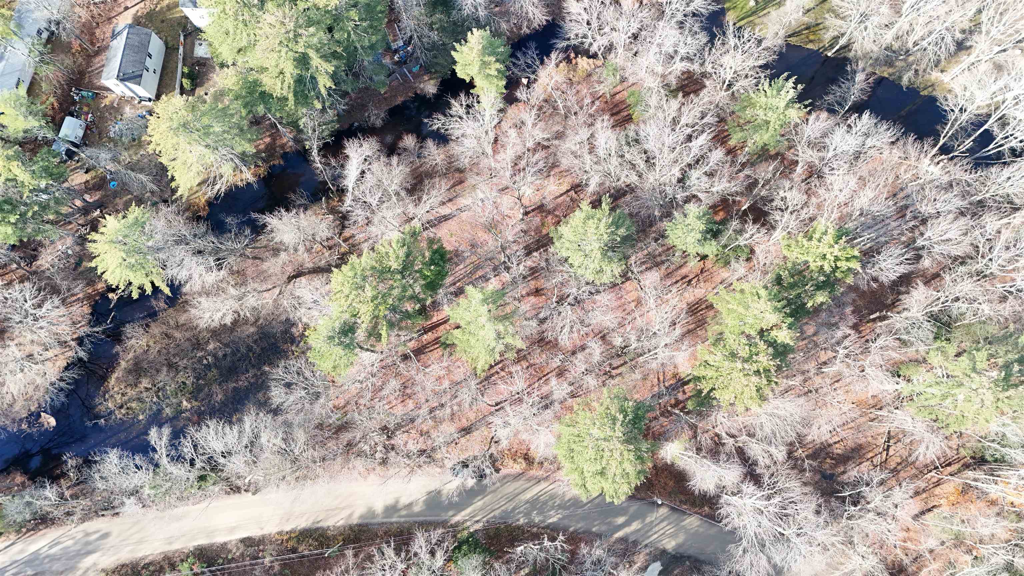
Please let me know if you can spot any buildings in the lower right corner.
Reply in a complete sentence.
No, no building appears in the lower right corner.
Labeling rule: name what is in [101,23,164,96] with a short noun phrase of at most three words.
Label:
house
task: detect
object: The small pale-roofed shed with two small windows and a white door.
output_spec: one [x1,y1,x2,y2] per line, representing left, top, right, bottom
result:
[55,114,86,144]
